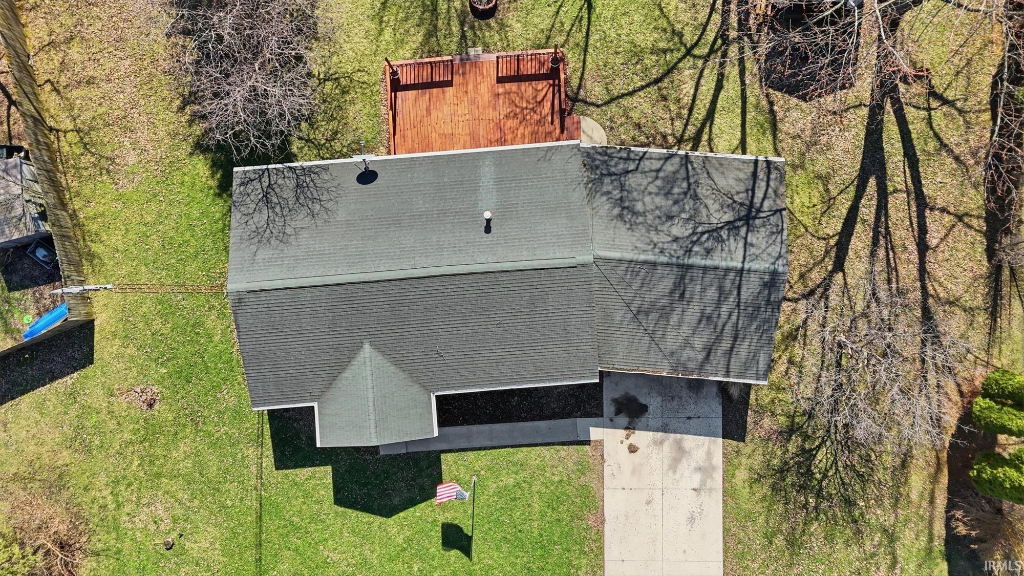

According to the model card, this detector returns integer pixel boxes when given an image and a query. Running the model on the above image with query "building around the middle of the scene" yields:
[226,137,789,446]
